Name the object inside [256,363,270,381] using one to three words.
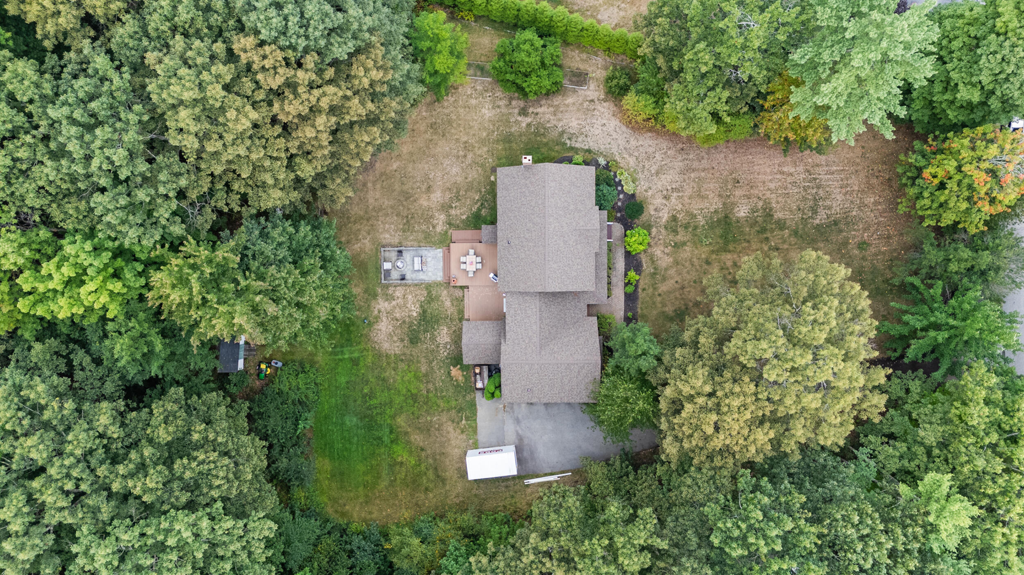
work vehicle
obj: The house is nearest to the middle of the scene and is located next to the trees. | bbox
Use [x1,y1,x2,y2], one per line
[462,155,614,403]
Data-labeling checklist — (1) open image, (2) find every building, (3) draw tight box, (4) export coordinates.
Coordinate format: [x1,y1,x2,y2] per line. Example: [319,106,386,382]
[462,155,614,403]
[218,330,250,375]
